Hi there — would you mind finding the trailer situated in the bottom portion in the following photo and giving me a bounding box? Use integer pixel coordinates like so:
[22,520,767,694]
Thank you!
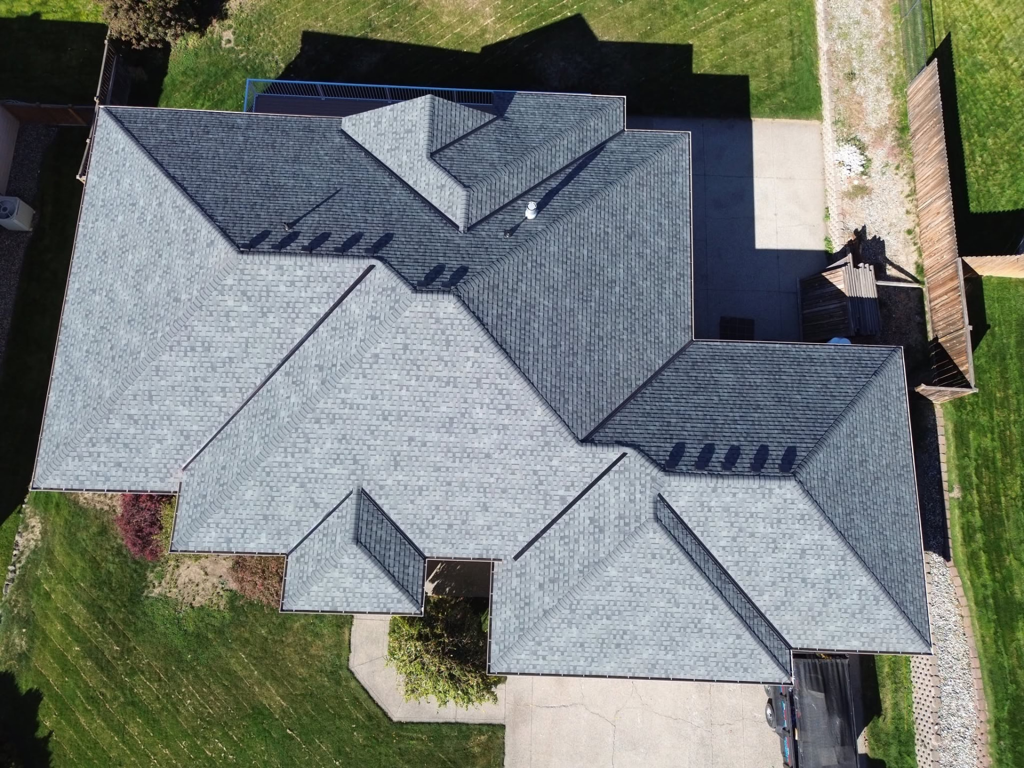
[764,651,861,768]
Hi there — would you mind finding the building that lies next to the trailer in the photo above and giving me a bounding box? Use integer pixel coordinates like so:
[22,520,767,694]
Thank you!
[32,91,932,683]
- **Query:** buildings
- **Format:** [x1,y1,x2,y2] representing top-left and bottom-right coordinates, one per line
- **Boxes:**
[32,91,932,683]
[0,106,19,199]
